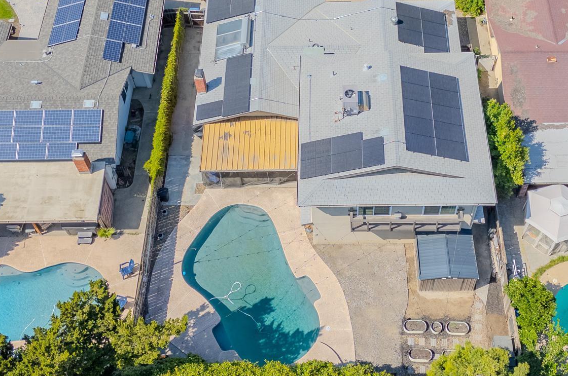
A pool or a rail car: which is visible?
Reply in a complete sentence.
Of the two, only a pool appears.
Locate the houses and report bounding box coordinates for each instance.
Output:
[188,0,498,244]
[0,0,167,242]
[485,0,568,204]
